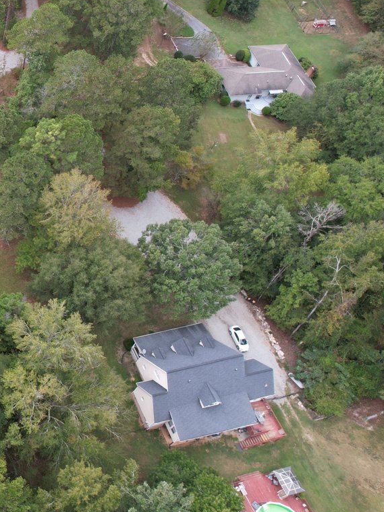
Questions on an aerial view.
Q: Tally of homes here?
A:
2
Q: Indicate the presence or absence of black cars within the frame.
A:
No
